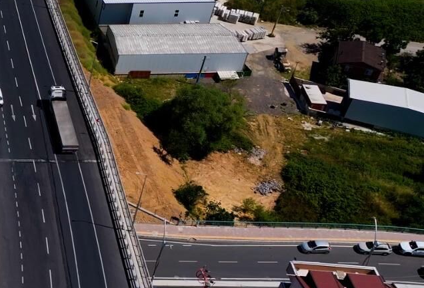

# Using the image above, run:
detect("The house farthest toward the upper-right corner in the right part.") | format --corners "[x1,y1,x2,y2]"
[330,37,386,83]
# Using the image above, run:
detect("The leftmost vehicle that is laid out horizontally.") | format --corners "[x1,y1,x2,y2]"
[301,239,335,254]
